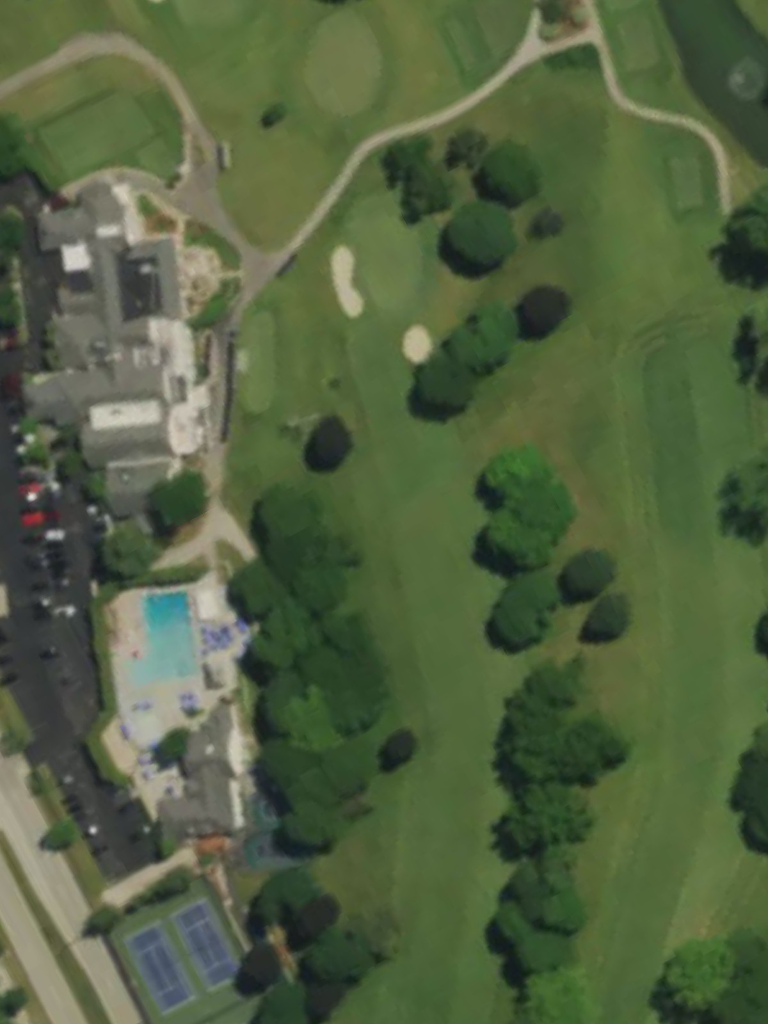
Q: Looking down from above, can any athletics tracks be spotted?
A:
No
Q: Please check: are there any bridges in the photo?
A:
No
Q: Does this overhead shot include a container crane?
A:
No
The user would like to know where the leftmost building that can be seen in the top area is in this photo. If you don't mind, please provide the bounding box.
[24,181,188,517]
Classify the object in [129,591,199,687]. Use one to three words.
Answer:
swimming pool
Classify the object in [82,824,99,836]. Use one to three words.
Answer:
vehicle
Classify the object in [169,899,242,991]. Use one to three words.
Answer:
tennis court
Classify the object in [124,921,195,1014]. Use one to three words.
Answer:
tennis court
